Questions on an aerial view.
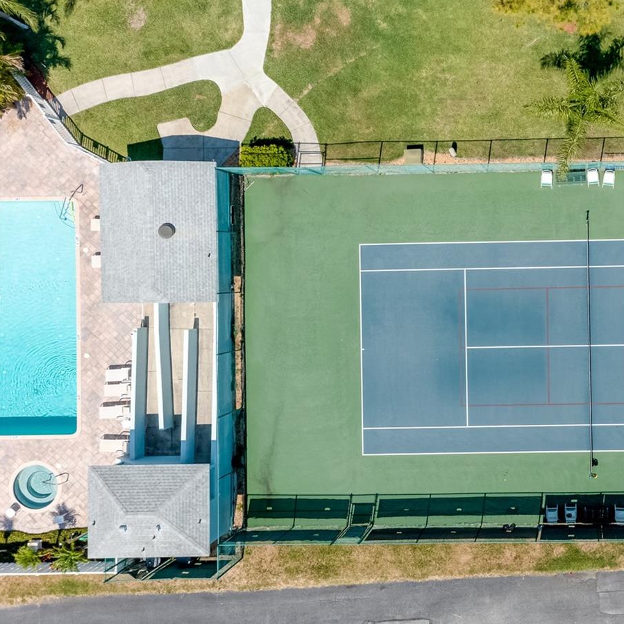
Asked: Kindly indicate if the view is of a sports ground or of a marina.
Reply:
sports ground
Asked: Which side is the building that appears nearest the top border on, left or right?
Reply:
left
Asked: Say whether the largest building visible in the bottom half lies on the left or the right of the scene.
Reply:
left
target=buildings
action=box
[99,160,232,303]
[88,458,218,559]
